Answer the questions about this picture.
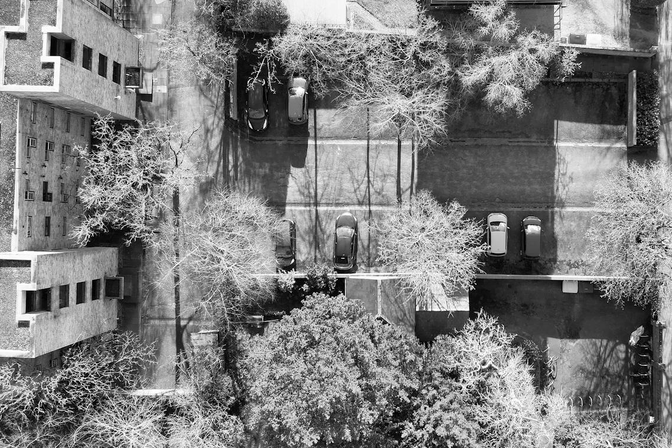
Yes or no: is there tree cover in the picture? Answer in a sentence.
Yes, there is tree cover in the image.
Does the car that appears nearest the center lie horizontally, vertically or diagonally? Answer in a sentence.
The car that appears nearest the center has been laid out vertically relative to the frame.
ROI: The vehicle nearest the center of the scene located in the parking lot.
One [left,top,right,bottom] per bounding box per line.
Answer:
[334,215,358,268]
